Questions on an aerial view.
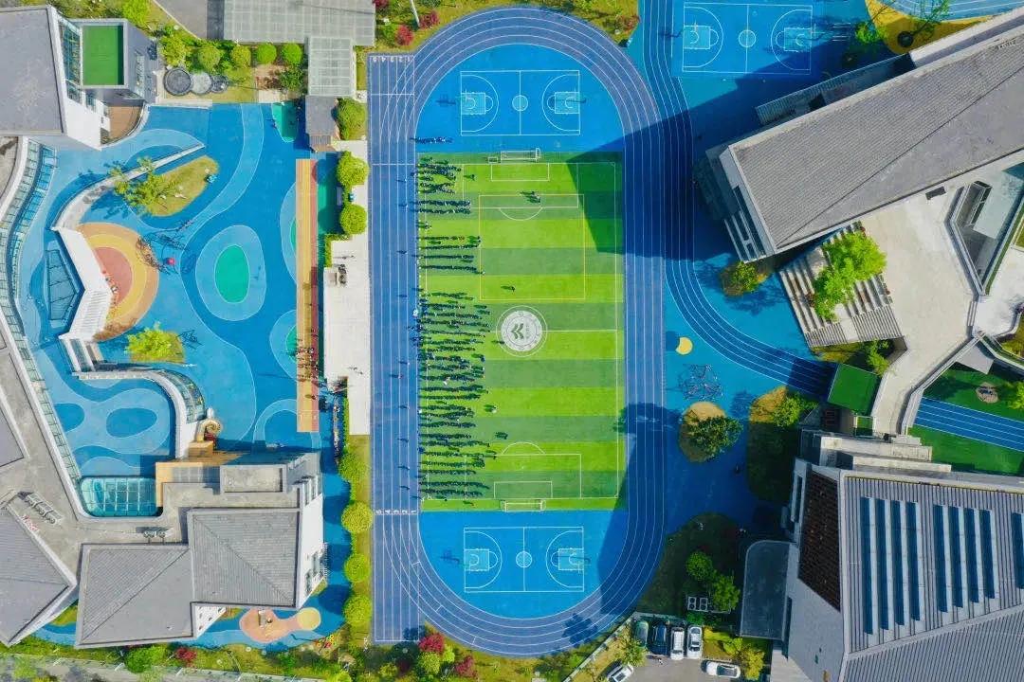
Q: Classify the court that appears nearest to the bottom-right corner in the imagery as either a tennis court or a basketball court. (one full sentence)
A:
The court that appears nearest to the bottom-right corner is a basketball court.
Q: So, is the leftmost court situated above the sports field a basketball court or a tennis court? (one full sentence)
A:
What you see as the leftmost court situated above the sports field is a basketball court.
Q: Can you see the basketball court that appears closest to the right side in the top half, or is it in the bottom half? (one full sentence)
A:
The top half of the photo is where the basketball court that appears closest to the right side is.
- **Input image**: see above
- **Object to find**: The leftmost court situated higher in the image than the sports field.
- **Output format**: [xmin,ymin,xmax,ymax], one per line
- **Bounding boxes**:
[461,70,580,135]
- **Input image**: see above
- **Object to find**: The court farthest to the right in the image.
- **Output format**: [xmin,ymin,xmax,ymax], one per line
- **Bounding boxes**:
[672,0,821,79]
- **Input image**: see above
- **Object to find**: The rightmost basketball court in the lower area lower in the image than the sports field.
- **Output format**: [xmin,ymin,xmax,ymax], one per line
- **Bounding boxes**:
[464,527,584,593]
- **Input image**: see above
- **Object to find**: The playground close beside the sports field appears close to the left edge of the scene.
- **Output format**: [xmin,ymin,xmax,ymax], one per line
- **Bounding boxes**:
[15,97,352,650]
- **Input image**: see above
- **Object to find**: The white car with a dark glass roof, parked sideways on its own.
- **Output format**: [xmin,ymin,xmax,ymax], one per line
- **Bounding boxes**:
[705,660,740,678]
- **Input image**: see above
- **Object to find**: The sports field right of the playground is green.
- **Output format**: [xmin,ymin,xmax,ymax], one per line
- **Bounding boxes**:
[418,151,627,512]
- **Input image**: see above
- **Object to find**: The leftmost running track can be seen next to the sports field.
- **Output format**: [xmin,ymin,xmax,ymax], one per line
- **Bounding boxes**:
[296,159,318,432]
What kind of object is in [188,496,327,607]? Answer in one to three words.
building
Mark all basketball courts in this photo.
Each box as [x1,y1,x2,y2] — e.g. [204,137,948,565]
[672,0,821,79]
[464,527,584,593]
[461,70,580,135]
